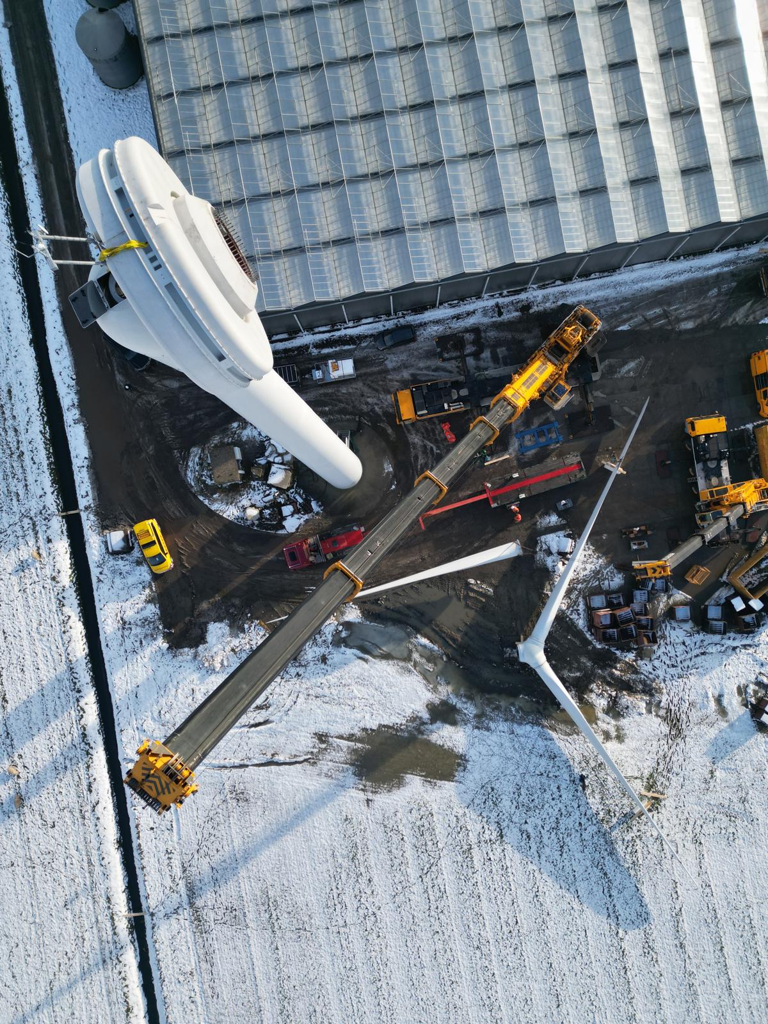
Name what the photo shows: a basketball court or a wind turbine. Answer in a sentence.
This aerial view contains a wind turbine.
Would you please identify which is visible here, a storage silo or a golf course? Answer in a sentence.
I can see a storage silo in this picture.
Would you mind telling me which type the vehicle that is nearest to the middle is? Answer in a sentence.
In the photo, the vehicle that is nearest to the middle shows up as a truck.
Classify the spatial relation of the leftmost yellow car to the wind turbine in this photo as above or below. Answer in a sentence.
You can see the leftmost yellow car below the wind turbine in the frame.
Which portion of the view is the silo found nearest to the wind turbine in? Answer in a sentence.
Look in the top left portion of the view to spot the silo found nearest to the wind turbine.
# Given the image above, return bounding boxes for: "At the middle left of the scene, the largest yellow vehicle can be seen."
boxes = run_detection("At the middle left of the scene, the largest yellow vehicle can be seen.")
[130,518,171,573]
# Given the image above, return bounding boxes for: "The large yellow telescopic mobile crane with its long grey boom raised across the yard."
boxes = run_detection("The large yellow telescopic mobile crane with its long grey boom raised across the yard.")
[118,301,609,814]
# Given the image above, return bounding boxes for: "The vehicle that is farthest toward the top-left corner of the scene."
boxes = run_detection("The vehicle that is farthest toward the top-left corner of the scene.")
[98,333,149,374]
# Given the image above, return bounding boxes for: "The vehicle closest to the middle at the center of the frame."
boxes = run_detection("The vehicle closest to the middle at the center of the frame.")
[285,513,383,571]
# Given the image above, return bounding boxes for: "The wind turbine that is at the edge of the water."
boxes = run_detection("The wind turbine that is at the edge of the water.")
[7,136,359,486]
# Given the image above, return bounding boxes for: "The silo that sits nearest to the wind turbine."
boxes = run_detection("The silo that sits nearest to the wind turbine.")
[75,3,143,87]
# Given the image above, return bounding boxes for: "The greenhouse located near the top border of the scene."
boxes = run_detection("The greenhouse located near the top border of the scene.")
[132,0,768,341]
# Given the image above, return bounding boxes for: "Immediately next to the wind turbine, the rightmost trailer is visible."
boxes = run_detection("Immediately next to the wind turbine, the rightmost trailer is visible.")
[421,450,589,530]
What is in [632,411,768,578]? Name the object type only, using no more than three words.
crane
